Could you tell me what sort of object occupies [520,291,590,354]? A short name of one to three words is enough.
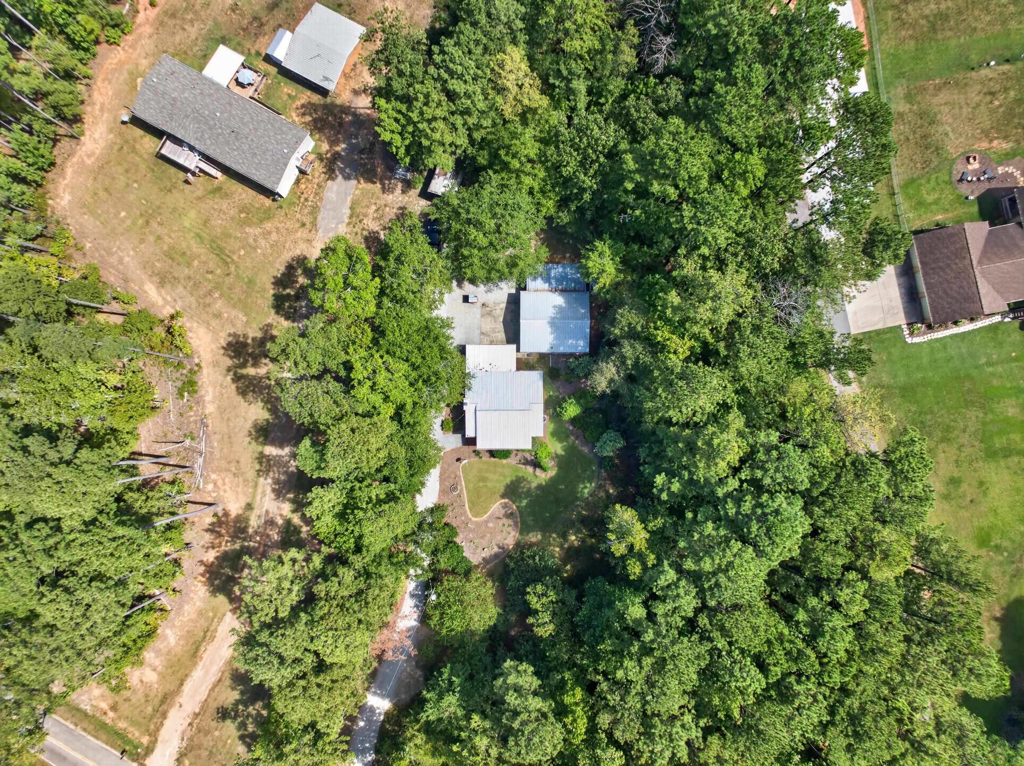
building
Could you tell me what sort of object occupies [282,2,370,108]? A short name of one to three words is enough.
barn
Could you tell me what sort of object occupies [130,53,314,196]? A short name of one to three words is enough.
house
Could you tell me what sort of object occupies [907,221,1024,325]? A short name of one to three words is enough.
house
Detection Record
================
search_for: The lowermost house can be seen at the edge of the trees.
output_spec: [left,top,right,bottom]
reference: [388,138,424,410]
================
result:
[461,370,544,451]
